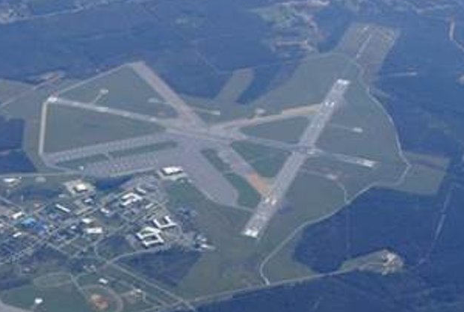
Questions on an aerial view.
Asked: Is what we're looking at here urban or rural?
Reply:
rural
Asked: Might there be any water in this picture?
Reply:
No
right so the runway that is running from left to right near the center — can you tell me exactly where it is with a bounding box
[46,97,381,166]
